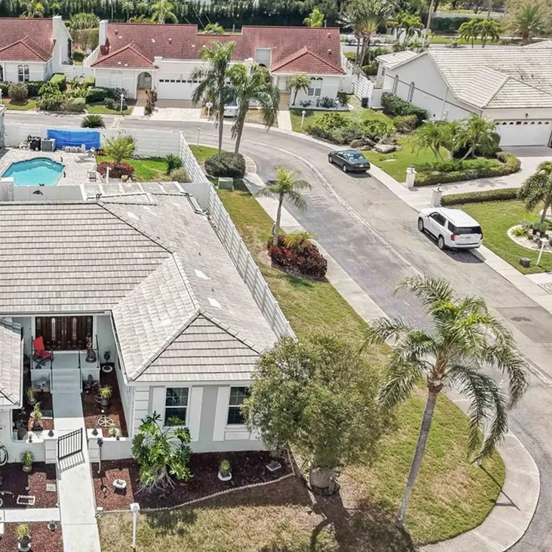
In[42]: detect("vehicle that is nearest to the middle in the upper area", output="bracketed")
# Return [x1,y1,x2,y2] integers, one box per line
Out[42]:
[317,145,372,172]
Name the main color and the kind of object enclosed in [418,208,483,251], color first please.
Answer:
white car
